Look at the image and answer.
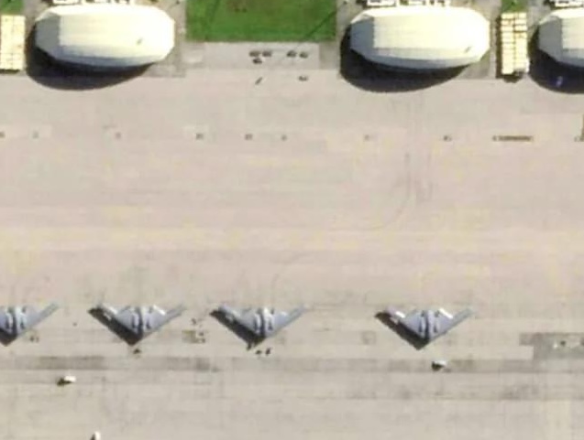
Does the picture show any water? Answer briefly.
No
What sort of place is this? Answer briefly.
airport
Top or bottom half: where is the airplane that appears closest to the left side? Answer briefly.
bottom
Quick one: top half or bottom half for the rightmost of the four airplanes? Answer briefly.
bottom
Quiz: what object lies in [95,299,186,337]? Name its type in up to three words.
airplane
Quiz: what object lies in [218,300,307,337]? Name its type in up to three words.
airplane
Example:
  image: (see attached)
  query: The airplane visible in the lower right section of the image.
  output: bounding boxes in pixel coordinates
[384,304,474,342]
